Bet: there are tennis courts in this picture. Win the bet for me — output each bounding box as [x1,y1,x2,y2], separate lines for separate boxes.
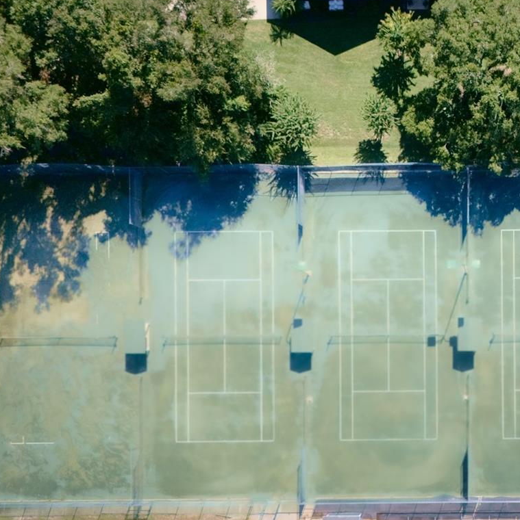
[141,172,303,500]
[303,172,465,500]
[0,172,141,500]
[467,172,520,495]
